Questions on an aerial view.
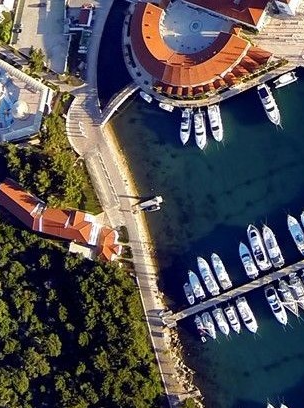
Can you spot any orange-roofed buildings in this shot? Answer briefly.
Yes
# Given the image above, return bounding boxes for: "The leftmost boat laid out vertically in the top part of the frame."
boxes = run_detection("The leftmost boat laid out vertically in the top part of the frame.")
[180,109,193,144]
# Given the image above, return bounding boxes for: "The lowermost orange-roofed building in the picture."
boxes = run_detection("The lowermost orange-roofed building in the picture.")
[100,226,124,262]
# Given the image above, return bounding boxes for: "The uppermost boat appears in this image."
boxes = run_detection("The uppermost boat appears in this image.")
[274,73,299,89]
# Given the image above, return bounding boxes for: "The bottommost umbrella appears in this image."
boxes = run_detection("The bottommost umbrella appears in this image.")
[13,101,28,116]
